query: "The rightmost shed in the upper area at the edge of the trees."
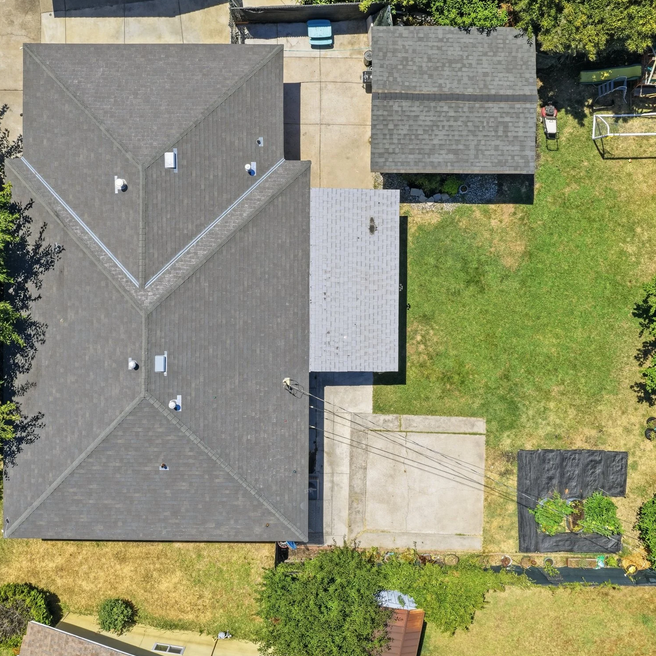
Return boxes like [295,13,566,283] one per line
[371,26,540,175]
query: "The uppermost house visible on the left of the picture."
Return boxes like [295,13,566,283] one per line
[0,43,312,542]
